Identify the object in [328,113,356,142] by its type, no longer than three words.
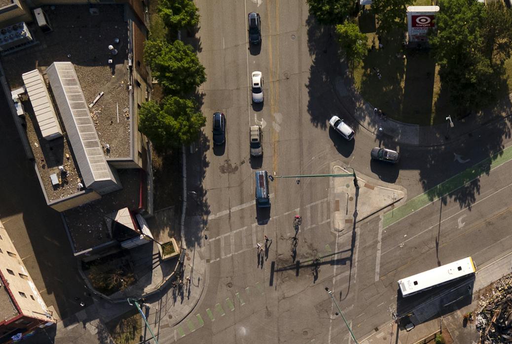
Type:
car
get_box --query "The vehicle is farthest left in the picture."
[211,112,226,145]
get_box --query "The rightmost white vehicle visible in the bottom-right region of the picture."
[399,254,479,298]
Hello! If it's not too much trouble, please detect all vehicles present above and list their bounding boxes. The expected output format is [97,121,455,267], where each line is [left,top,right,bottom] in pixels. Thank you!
[328,113,356,142]
[399,254,479,298]
[248,125,262,157]
[250,71,264,104]
[247,10,262,45]
[255,169,270,208]
[369,147,401,163]
[211,112,226,145]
